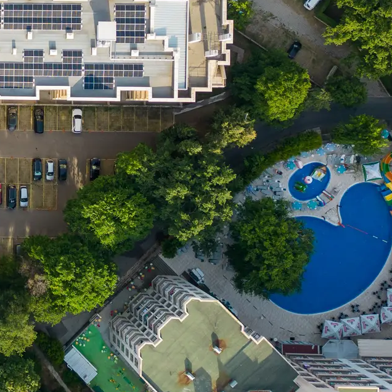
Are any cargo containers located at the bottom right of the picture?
No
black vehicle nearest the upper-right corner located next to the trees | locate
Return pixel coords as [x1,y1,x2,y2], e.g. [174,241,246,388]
[286,40,301,61]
